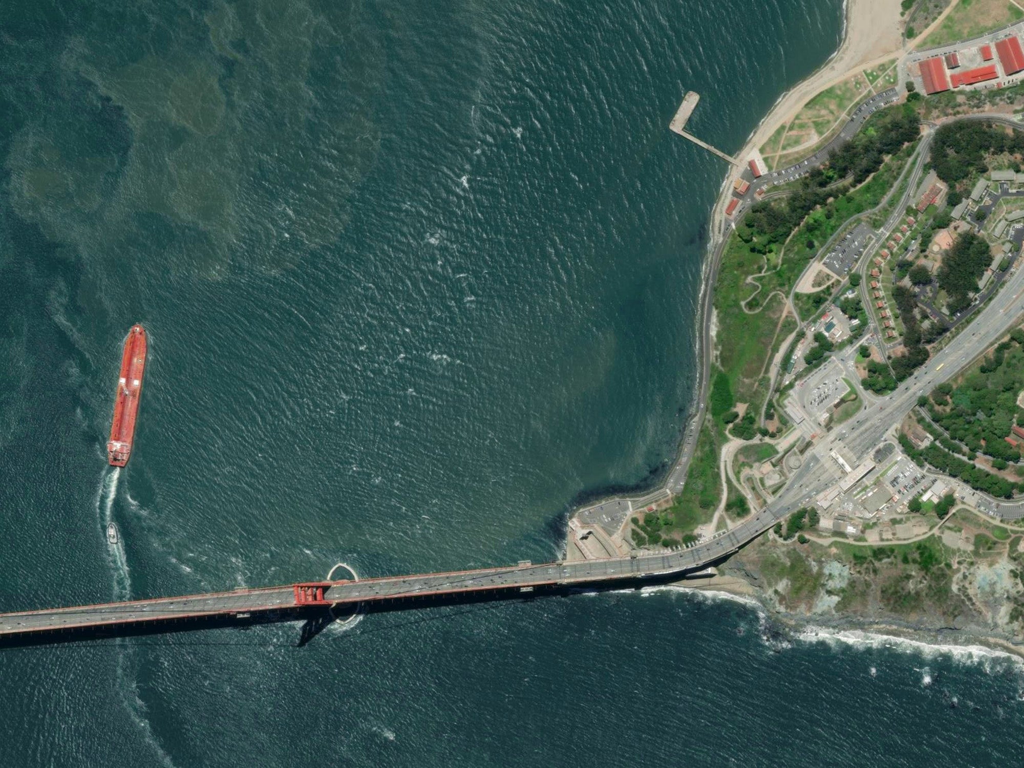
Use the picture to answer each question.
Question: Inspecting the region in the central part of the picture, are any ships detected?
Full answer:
No, no ship can be made out in the central part of the picture.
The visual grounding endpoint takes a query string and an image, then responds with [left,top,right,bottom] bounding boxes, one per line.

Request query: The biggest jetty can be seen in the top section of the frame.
[669,91,739,167]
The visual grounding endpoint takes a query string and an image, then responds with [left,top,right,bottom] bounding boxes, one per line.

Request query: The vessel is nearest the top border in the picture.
[107,324,148,466]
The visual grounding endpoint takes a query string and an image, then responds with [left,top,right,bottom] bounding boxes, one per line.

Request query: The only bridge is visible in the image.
[0,507,776,636]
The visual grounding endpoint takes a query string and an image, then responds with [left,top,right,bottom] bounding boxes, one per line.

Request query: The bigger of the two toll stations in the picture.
[813,429,865,484]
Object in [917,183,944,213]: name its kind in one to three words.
building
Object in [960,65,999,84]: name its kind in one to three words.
building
